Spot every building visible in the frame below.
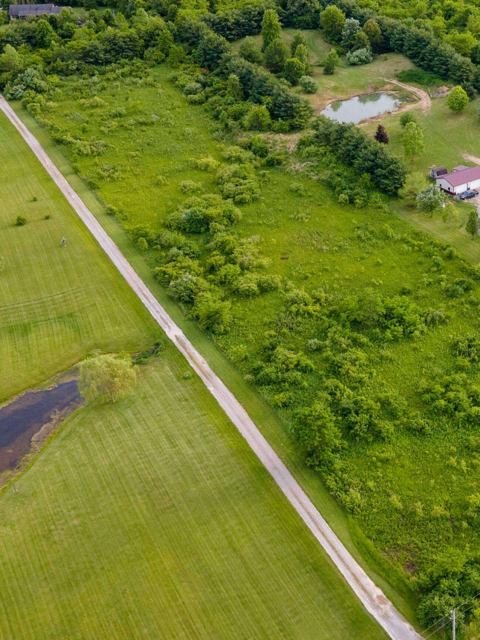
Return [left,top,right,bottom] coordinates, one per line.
[7,5,80,23]
[438,166,480,195]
